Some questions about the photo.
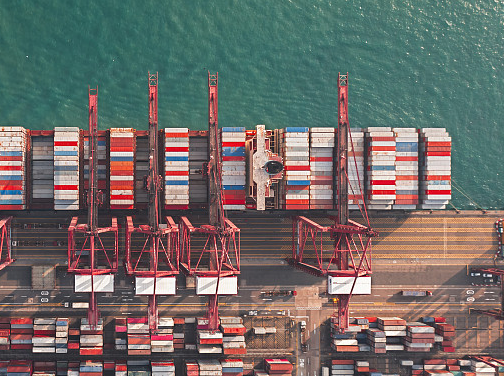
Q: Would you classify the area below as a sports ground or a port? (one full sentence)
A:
The picture captures a port.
